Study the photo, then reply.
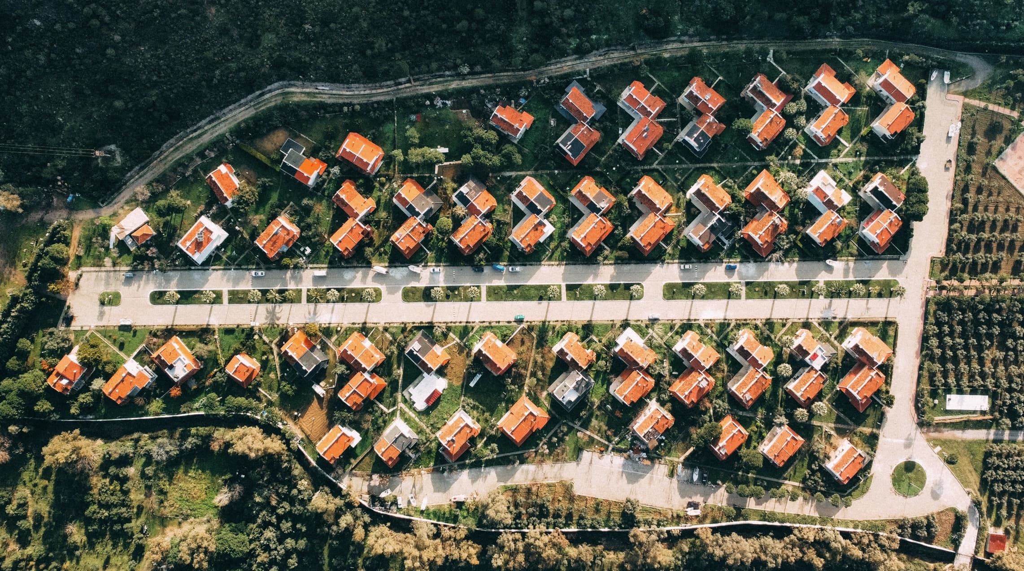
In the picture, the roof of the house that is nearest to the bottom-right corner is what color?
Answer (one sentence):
From above, the roof of the house that is nearest to the bottom-right corner looks red.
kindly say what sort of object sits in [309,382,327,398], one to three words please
camper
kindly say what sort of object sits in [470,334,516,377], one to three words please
house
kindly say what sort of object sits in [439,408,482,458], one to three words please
house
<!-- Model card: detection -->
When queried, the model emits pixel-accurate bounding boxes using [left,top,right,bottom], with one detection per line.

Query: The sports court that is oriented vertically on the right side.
[995,129,1024,191]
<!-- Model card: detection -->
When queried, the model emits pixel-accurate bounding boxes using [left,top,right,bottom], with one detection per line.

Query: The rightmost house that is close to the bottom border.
[983,527,1007,553]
